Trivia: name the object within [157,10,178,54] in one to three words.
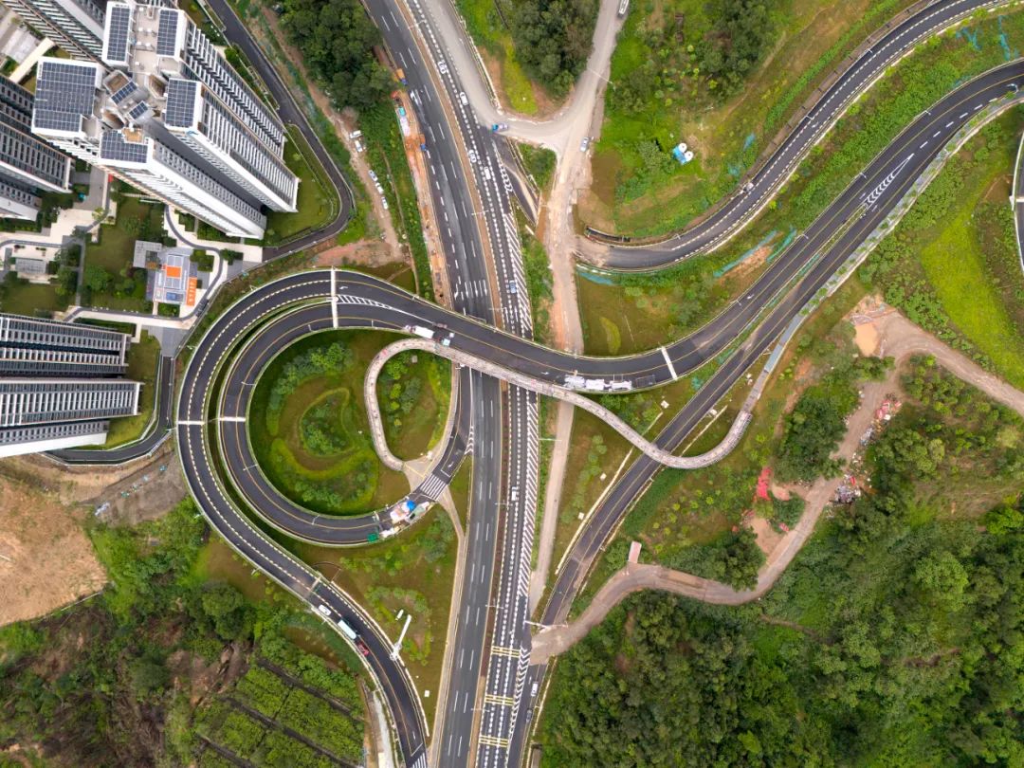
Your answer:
solar panel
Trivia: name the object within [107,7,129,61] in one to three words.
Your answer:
solar panel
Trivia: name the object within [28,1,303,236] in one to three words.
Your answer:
building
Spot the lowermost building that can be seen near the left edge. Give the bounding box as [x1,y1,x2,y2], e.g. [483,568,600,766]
[0,381,141,460]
